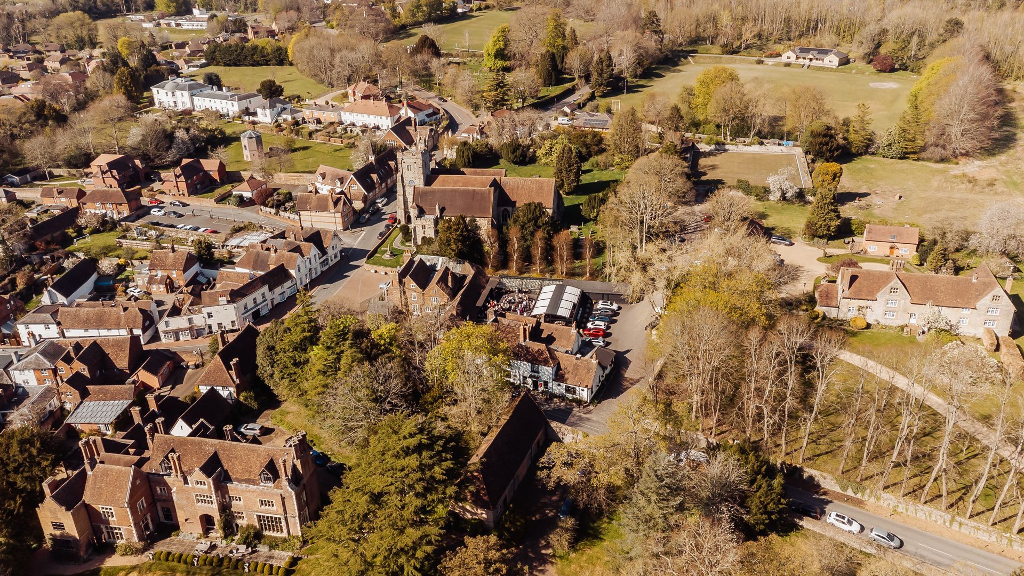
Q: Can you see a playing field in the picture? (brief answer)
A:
Yes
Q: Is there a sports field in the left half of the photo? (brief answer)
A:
No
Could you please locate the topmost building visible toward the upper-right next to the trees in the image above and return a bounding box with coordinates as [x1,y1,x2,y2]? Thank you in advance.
[773,47,845,67]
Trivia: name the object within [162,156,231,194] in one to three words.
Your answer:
house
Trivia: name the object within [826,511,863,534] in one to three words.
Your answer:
car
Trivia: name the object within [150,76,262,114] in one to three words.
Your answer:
house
